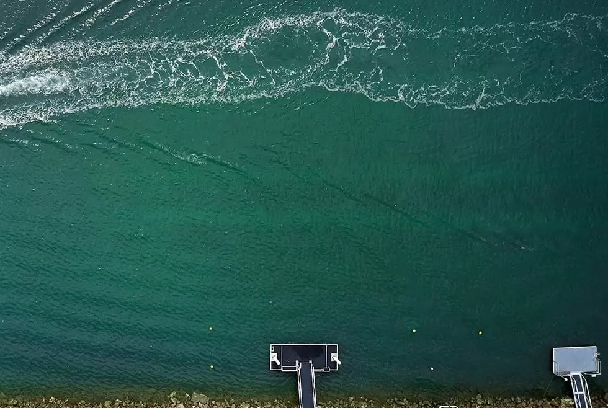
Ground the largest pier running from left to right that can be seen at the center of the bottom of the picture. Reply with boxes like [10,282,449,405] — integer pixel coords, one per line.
[270,344,338,372]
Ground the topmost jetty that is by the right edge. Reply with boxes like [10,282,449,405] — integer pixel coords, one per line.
[552,346,604,381]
